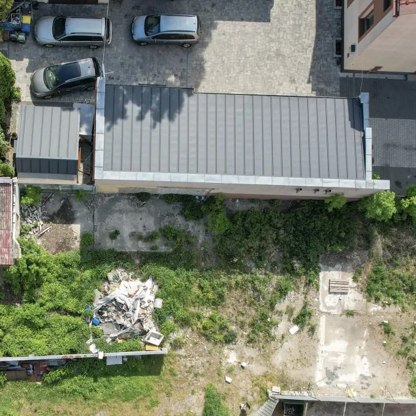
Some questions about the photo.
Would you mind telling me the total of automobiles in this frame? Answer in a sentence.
There are 2 automobiles in the image.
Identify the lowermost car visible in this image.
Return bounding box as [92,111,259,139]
[32,54,102,102]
